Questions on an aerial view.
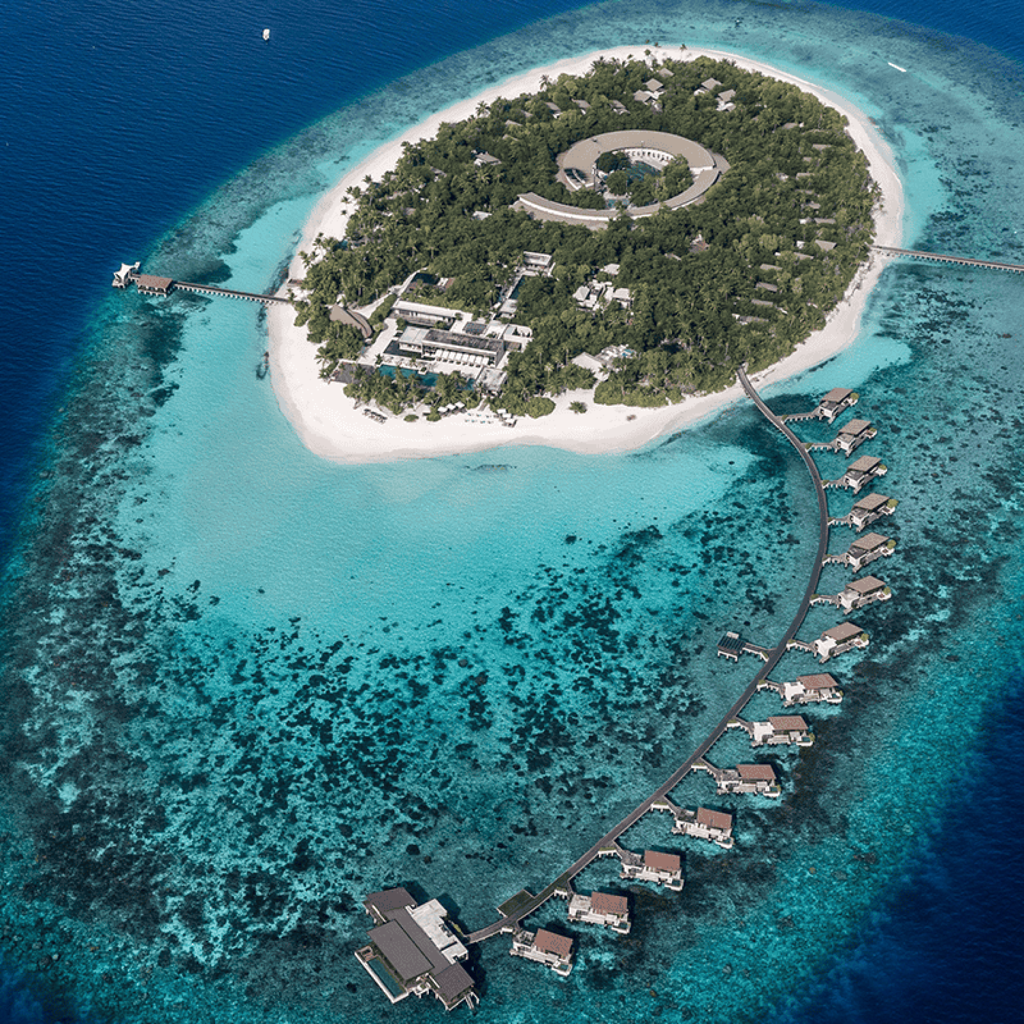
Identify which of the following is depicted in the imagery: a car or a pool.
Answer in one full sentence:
I can see a pool in this picture.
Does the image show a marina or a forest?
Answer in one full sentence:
What you see here is a marina.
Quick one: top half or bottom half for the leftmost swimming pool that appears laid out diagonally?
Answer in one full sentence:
You can find the leftmost swimming pool that appears laid out diagonally in the bottom half.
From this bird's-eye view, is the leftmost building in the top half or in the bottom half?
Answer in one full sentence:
The leftmost building is in the top half of the image.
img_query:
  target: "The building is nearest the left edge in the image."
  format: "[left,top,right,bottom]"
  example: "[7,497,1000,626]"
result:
[137,275,174,299]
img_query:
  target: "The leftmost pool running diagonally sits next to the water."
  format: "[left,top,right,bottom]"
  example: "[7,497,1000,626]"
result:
[367,958,406,998]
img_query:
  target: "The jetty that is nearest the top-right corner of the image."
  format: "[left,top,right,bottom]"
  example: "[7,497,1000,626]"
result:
[870,244,1024,276]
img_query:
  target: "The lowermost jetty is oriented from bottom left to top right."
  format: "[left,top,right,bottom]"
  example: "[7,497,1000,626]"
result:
[464,365,830,946]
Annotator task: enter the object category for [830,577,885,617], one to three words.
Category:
house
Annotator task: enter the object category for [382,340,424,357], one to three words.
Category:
swimming pool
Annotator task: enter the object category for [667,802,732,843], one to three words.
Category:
house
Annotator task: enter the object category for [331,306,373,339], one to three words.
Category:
building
